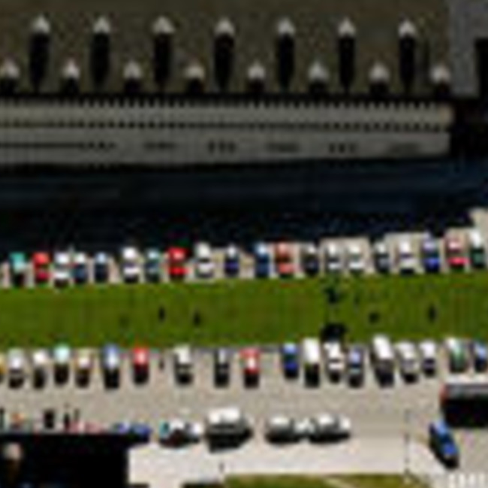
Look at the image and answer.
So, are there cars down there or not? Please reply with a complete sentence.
Yes, there's a car here.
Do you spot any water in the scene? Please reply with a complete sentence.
No, water can't be seen anywhere here.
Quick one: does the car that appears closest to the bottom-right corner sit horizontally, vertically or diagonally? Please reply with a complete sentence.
What the image shows is the car that appears closest to the bottom-right corner lying diagonally.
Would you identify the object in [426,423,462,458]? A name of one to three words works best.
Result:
car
